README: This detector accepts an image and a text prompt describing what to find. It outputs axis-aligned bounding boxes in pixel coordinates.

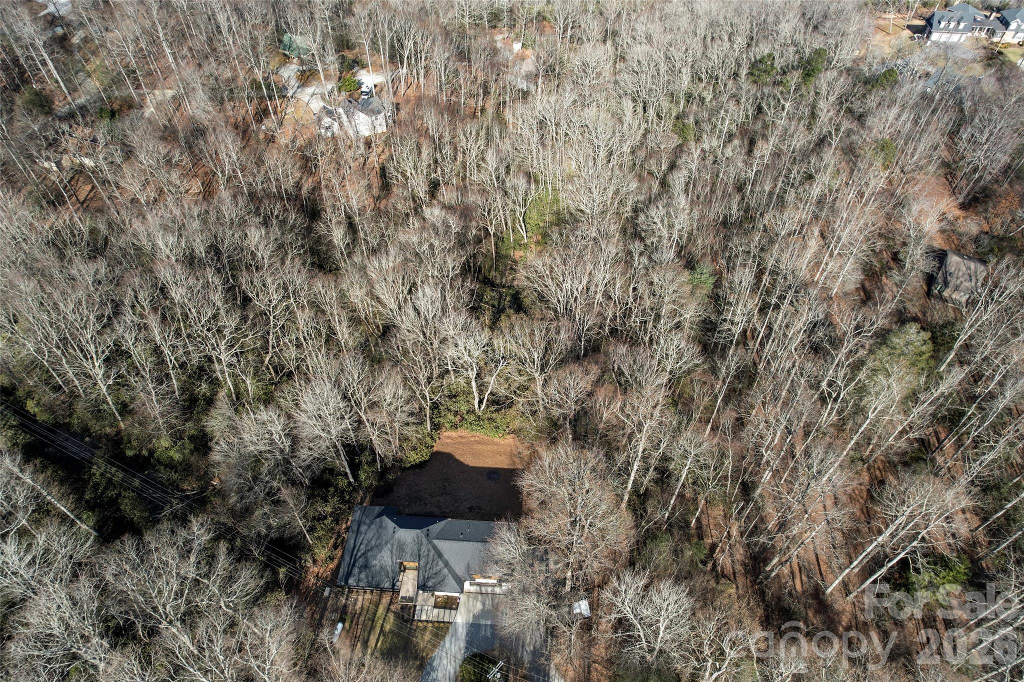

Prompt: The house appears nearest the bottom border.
[337,505,521,598]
